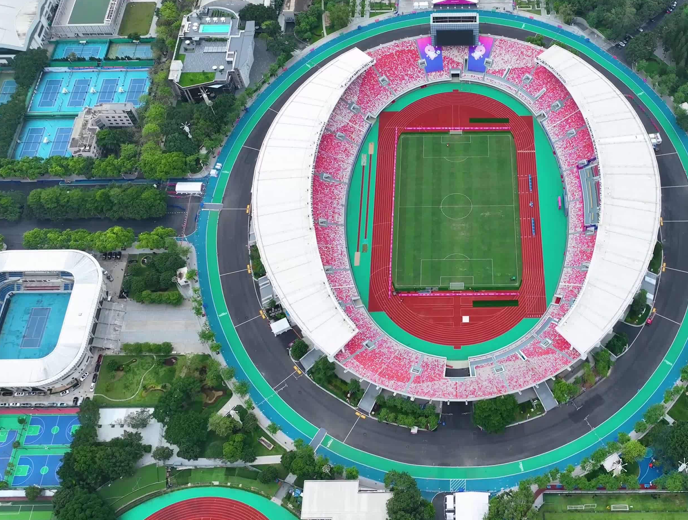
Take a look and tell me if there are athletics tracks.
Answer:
Yes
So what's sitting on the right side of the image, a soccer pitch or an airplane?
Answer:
soccer pitch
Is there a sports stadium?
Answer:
Yes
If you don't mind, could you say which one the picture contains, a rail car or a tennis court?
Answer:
tennis court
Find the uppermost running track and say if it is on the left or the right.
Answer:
right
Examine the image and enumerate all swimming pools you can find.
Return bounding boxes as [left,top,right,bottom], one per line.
[199,25,229,32]
[52,0,122,33]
